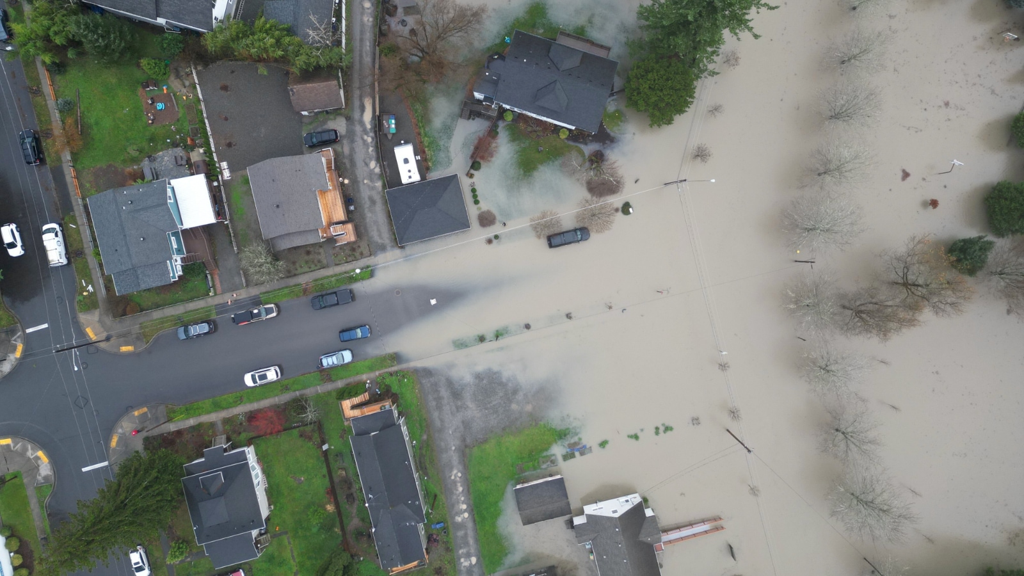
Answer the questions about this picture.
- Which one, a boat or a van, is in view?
van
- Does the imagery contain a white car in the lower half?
Yes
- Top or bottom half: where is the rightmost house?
bottom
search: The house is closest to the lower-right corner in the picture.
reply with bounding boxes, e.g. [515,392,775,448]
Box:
[573,493,728,576]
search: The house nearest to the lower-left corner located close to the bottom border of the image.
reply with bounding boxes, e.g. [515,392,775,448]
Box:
[181,434,272,569]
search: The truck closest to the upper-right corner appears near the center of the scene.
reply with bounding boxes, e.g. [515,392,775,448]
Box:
[546,228,590,250]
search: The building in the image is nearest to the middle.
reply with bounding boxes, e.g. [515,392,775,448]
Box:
[385,173,471,246]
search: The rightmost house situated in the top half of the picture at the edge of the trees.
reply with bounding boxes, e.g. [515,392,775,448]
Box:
[459,29,619,133]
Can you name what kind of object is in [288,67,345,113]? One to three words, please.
shed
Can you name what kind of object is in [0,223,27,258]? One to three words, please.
car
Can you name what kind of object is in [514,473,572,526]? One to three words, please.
building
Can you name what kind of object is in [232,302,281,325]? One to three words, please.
truck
